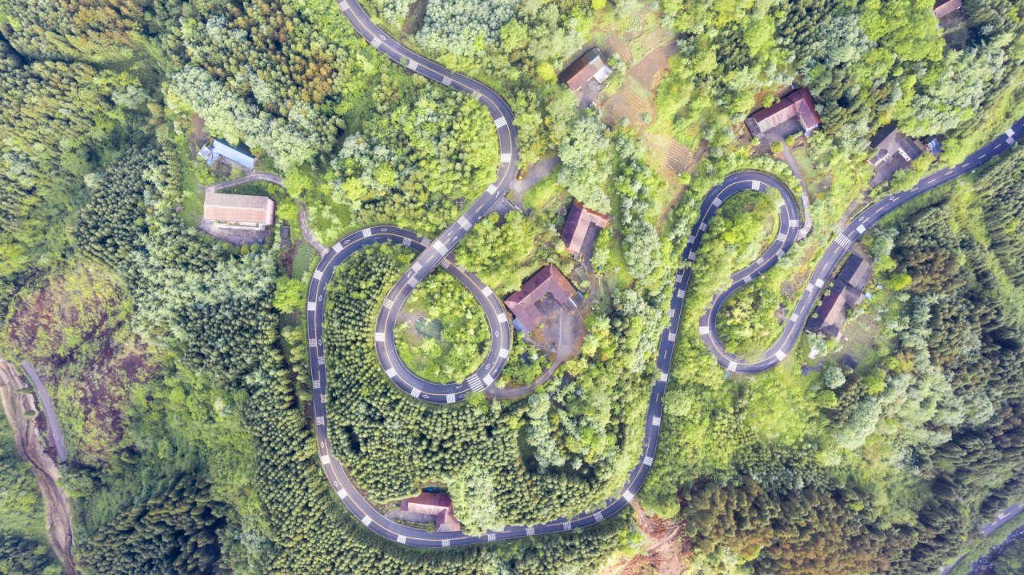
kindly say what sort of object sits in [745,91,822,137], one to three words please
house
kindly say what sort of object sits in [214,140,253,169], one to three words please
shed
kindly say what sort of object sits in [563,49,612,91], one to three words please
house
